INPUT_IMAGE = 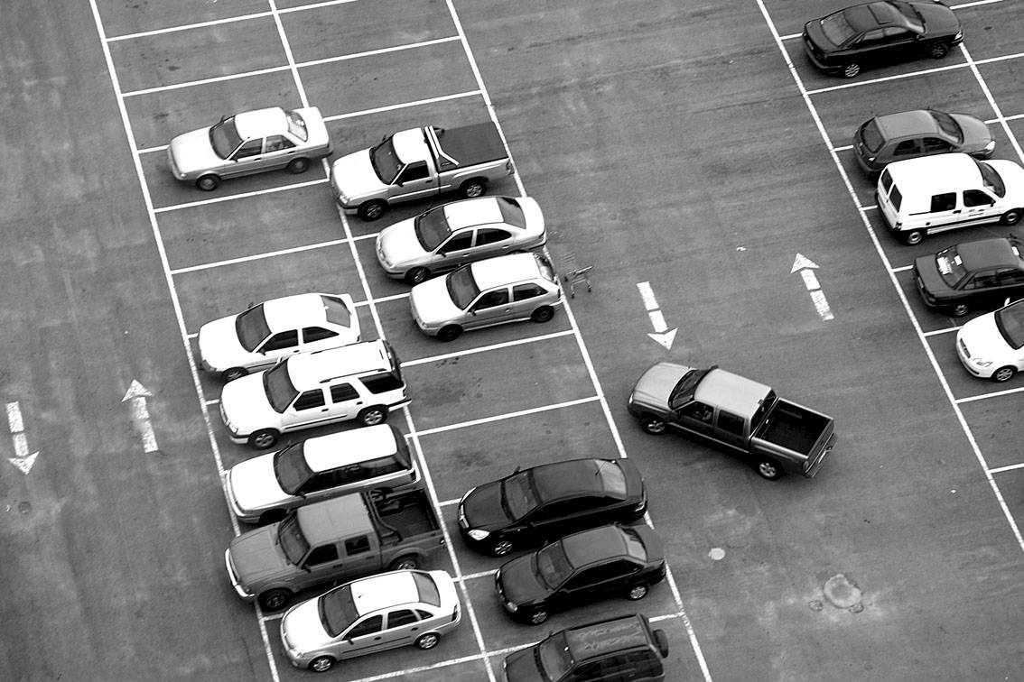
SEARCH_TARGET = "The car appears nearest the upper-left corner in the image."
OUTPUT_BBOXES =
[165,106,331,191]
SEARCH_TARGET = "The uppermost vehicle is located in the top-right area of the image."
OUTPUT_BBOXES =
[802,0,964,77]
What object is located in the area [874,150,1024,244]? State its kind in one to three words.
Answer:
van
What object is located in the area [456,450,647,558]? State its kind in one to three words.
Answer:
car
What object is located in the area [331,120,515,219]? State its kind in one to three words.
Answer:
truck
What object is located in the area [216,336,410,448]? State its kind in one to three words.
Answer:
vehicle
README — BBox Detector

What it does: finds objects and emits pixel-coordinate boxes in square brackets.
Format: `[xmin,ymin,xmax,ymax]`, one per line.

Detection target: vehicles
[165,106,331,191]
[223,482,449,609]
[494,520,668,624]
[226,423,420,525]
[874,150,1024,244]
[628,363,838,485]
[197,290,364,381]
[957,299,1024,381]
[375,192,546,284]
[498,610,673,682]
[216,336,410,448]
[912,229,1024,318]
[802,0,964,77]
[456,450,647,558]
[331,120,515,219]
[857,103,998,178]
[277,565,461,670]
[408,251,563,341]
